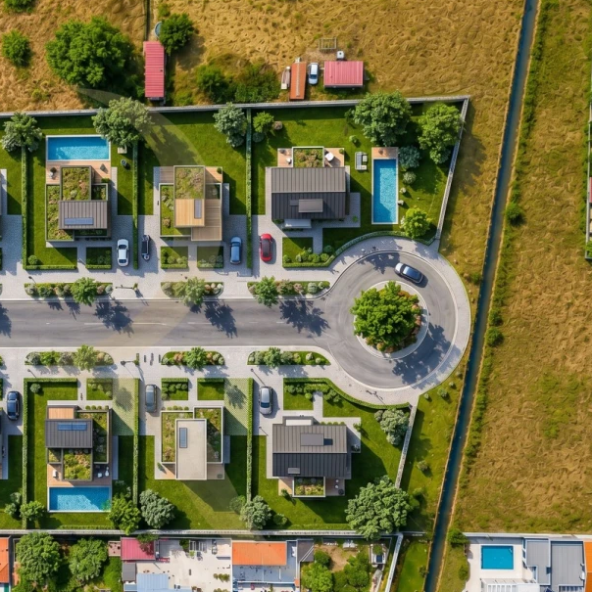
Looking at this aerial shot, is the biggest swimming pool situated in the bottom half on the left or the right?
left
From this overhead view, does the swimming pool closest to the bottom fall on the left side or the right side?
right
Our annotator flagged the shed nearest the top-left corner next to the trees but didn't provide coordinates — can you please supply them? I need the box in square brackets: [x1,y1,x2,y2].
[145,41,165,102]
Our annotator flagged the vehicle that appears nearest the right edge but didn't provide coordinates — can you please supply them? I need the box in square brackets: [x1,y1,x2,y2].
[393,262,426,285]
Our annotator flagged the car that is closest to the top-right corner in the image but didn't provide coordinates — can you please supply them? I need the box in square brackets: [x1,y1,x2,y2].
[308,63,320,85]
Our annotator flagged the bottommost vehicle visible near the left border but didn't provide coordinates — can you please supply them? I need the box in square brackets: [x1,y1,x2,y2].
[6,391,21,418]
